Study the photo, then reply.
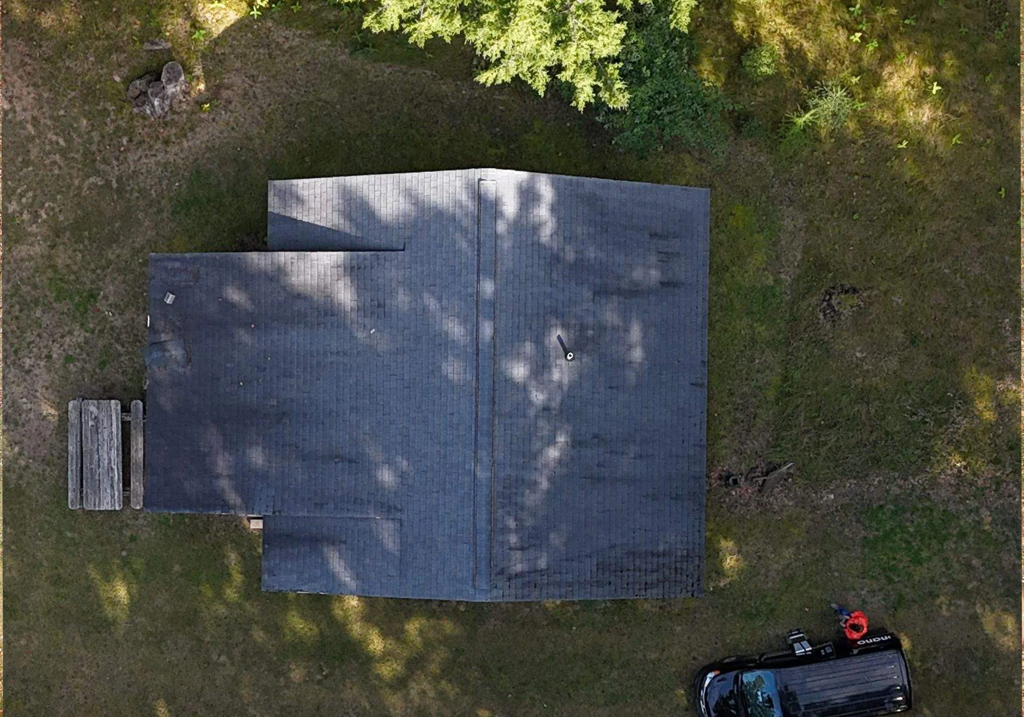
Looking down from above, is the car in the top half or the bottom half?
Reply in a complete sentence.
You can find the car in the bottom half.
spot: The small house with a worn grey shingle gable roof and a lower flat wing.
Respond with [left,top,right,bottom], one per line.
[142,167,711,603]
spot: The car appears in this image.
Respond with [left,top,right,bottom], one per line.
[691,626,912,717]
